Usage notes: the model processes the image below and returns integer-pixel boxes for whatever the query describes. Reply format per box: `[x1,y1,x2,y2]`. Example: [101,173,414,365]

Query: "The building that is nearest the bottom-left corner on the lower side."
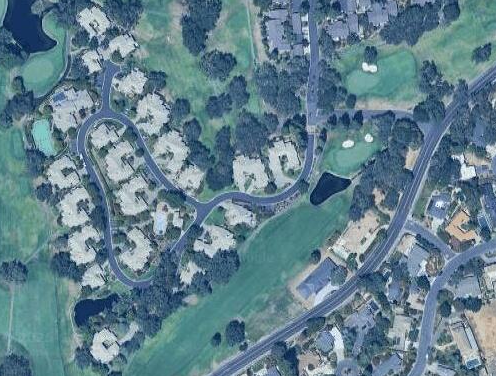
[90,326,123,364]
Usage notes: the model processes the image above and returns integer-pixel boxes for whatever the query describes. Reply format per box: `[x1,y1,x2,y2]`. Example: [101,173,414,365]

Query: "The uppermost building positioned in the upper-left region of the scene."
[76,5,111,39]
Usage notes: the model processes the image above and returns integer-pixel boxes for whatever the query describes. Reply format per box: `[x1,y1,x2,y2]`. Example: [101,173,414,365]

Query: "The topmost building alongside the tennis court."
[52,90,96,129]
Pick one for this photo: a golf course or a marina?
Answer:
golf course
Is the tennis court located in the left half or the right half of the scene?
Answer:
left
